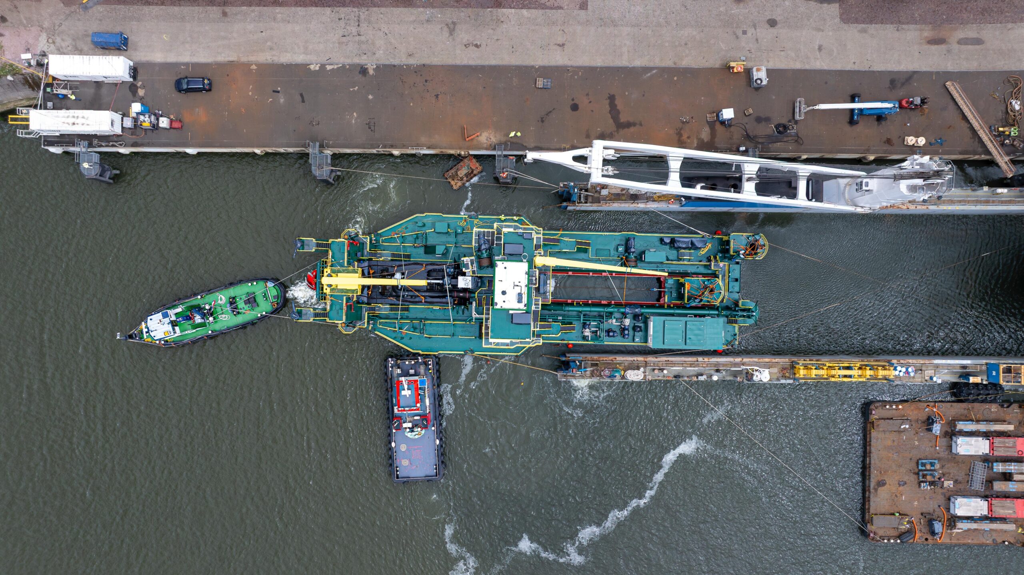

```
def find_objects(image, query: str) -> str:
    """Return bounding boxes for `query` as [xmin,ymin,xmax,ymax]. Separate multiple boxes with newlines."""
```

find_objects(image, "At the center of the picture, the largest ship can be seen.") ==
[291,213,768,357]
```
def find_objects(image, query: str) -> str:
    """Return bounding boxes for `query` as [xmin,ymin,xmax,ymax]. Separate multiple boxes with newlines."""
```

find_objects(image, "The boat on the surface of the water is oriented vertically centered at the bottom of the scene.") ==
[384,353,446,486]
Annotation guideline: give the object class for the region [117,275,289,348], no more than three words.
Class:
boat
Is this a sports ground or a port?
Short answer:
port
